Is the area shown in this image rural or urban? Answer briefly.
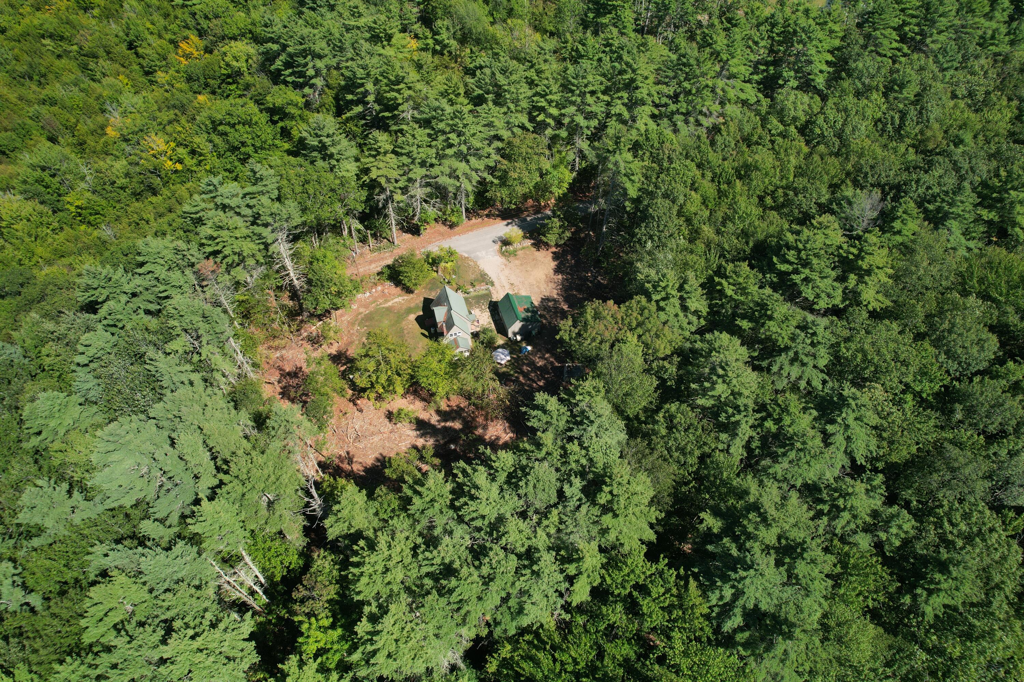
rural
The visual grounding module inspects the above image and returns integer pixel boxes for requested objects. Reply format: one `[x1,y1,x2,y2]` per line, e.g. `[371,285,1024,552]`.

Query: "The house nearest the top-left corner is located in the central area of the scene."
[430,285,480,364]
